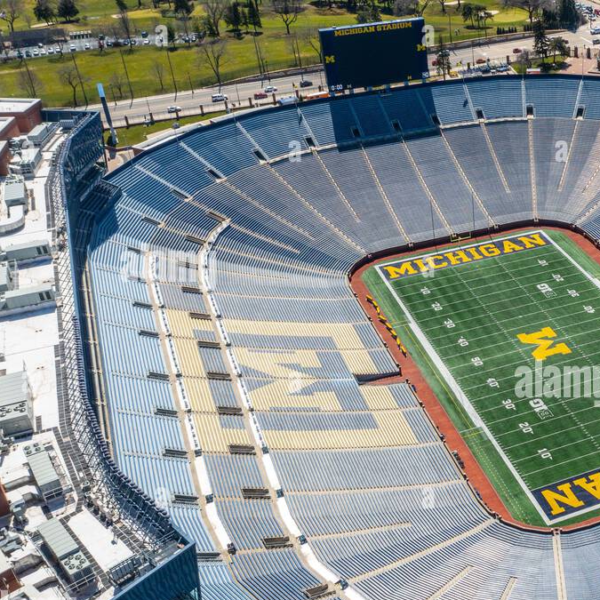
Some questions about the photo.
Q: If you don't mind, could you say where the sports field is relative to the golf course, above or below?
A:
below it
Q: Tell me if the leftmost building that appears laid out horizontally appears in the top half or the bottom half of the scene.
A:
top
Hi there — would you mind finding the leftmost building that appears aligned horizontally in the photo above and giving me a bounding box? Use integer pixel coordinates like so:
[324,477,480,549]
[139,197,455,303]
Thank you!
[1,19,73,50]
